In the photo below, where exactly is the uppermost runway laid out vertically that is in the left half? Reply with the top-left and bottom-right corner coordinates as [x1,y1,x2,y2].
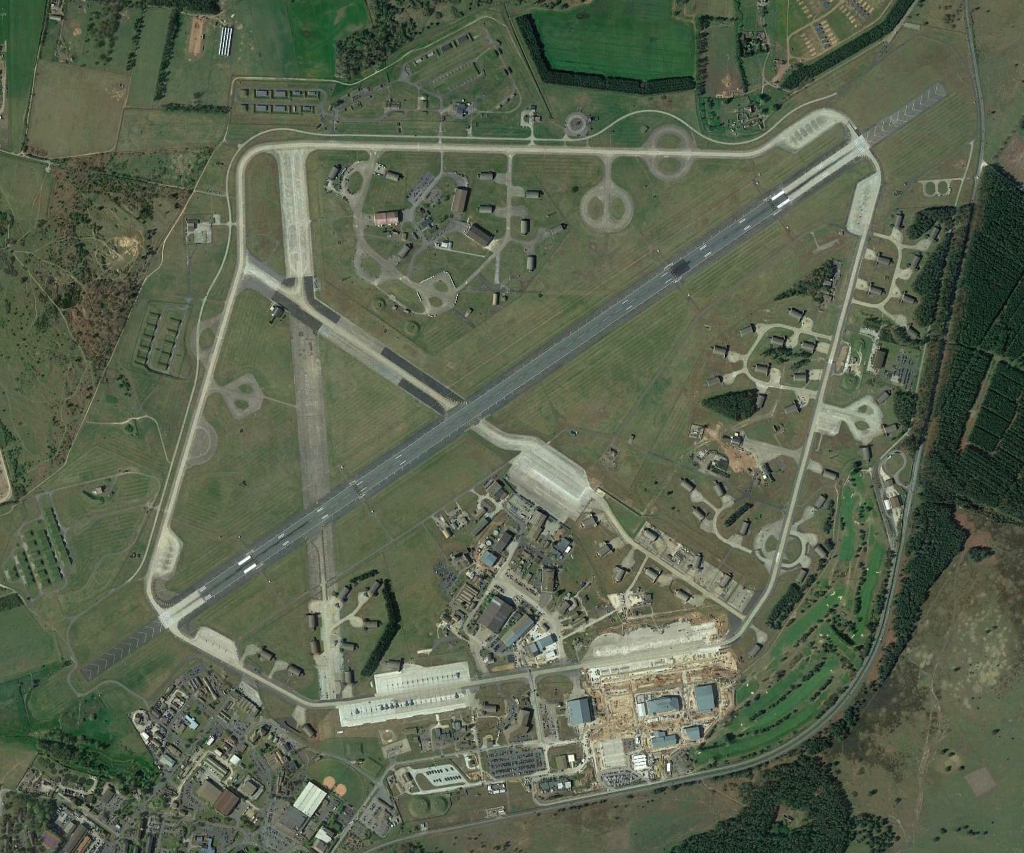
[270,149,314,287]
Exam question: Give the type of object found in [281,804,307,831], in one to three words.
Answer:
building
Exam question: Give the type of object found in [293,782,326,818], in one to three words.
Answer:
building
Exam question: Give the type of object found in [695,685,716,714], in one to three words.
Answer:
hangar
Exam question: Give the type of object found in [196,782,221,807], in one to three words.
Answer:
hangar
